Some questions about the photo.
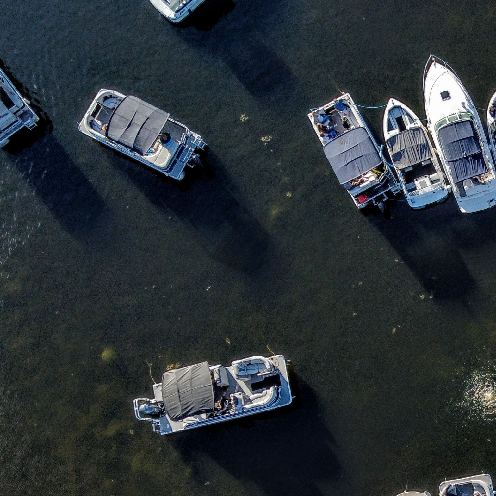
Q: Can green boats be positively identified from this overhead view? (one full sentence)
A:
No, I can see no green boat in this picture.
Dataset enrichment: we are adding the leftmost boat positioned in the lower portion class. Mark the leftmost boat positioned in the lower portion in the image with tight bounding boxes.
[133,351,297,441]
